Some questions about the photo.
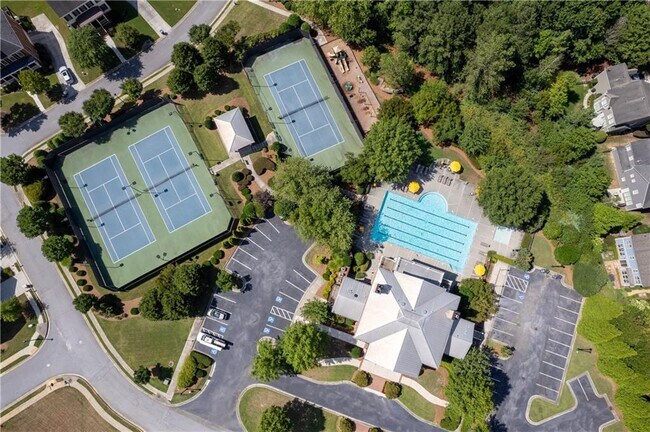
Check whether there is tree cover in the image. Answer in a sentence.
Yes, the picture does contain tree cover.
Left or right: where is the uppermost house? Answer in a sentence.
The uppermost house appears in the left half of the scene.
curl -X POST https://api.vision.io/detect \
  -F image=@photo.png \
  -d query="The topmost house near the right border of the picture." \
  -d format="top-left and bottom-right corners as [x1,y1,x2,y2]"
[588,63,650,132]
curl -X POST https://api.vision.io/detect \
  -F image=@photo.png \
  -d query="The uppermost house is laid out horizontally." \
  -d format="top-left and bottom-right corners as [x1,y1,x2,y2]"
[46,0,112,32]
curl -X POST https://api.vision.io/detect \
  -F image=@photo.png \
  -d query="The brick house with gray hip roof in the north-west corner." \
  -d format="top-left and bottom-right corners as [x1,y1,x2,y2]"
[0,10,44,99]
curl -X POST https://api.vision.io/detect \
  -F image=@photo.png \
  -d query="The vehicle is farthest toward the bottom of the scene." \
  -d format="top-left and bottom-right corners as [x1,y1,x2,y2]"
[196,334,225,353]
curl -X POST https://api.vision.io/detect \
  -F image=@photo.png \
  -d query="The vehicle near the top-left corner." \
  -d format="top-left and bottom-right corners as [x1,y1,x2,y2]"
[58,66,72,84]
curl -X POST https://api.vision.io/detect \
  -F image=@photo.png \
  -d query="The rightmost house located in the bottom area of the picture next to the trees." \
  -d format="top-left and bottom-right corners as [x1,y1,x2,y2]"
[615,232,650,289]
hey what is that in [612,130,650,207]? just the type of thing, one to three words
house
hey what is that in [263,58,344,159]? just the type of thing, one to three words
tennis court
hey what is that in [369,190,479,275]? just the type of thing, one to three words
swimming pool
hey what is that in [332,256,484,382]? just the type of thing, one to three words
building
